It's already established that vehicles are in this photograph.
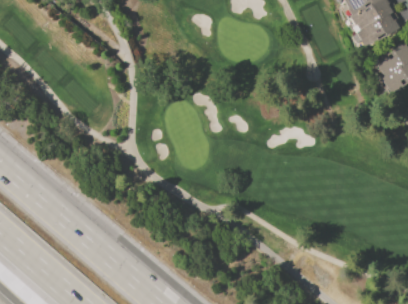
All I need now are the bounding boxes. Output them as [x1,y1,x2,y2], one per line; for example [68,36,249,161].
[0,176,10,184]
[148,274,158,282]
[72,290,83,301]
[74,228,84,236]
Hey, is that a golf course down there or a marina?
golf course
